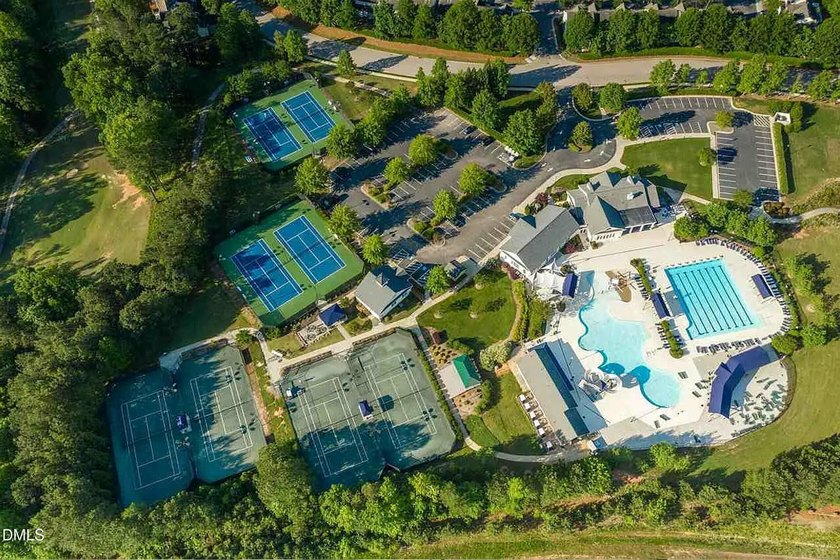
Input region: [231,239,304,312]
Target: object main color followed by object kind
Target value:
blue tennis court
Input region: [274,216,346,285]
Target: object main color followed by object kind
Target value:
blue tennis court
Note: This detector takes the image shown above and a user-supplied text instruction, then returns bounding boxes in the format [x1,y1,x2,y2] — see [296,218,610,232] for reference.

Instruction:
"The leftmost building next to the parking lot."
[354,265,414,319]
